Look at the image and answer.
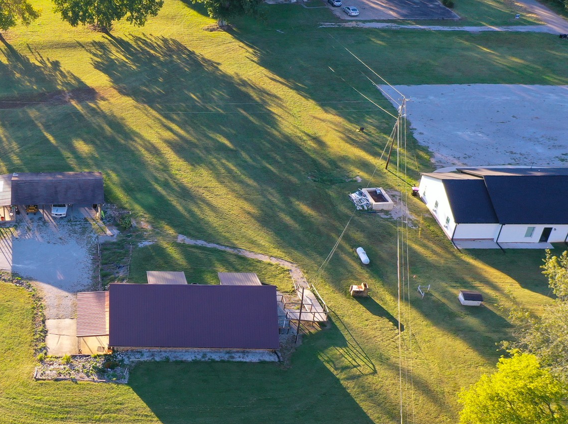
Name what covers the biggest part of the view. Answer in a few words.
grass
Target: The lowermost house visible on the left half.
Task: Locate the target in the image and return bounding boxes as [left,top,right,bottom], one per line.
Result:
[101,270,282,366]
